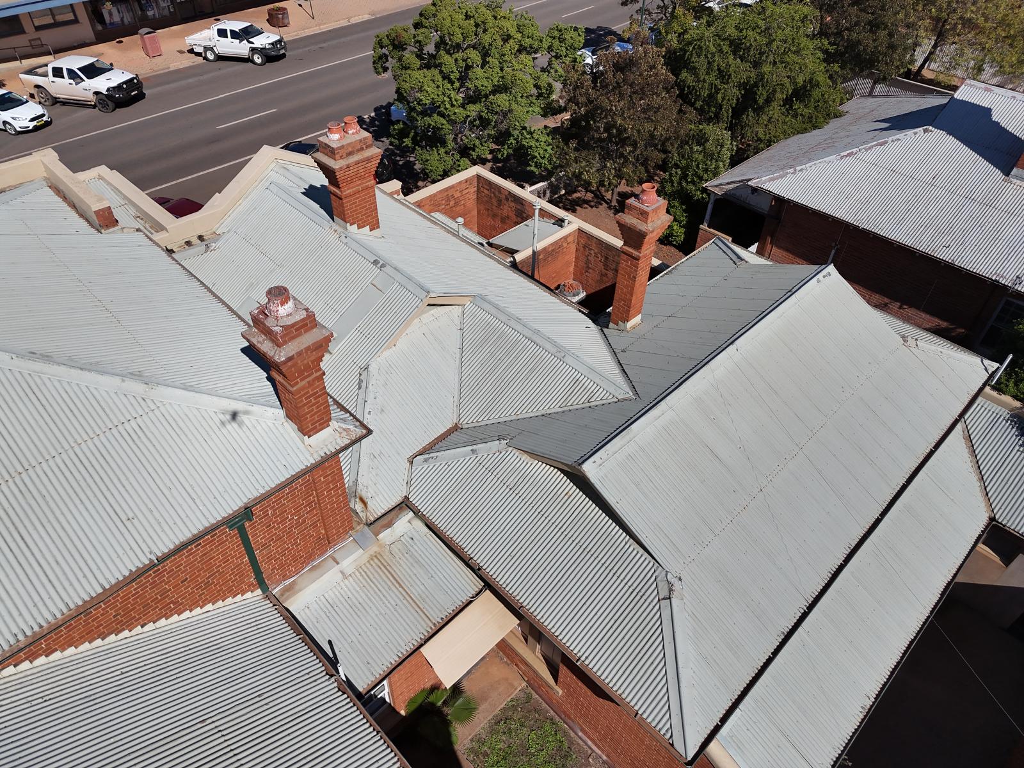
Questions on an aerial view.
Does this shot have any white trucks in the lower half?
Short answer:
No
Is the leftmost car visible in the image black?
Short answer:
No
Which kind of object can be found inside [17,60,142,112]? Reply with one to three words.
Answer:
truck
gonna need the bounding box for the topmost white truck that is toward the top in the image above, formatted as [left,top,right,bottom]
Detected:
[184,23,281,65]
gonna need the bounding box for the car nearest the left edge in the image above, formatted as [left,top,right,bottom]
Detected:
[0,89,51,130]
